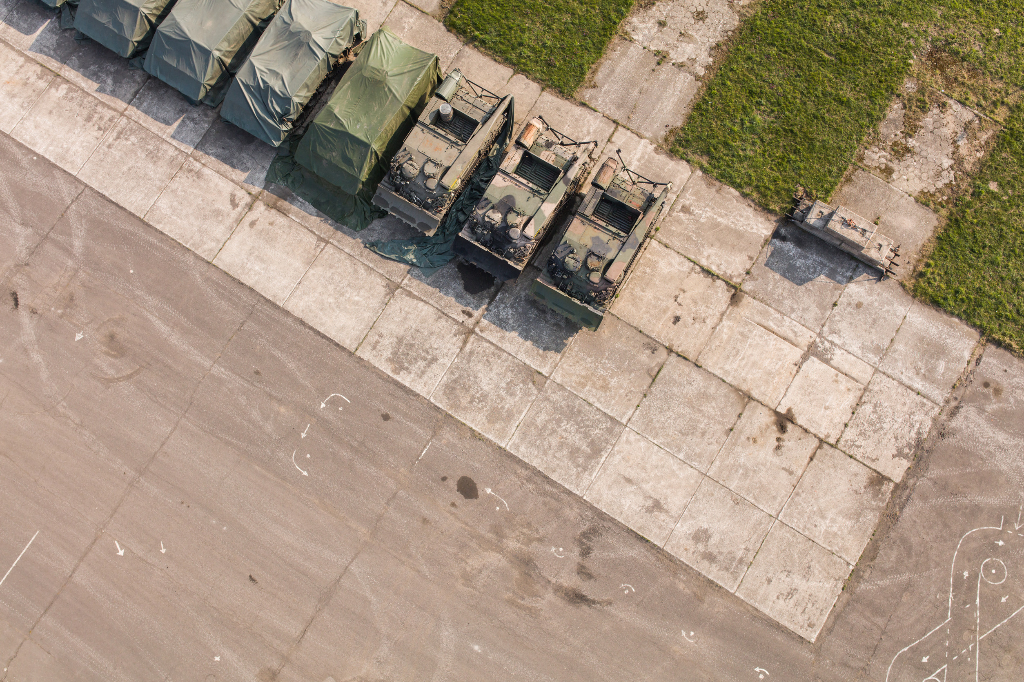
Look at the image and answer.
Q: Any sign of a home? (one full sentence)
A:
No, no home is visible in the scene.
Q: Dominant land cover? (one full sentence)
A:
Most of the picture is covered by paved ground.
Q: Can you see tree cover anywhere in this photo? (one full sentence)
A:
No, the scene doesn't show any tree cover.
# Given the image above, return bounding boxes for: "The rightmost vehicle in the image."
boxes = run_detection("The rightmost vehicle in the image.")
[530,148,672,333]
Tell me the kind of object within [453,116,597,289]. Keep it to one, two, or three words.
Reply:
vehicle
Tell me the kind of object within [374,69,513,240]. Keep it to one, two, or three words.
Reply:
vehicle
